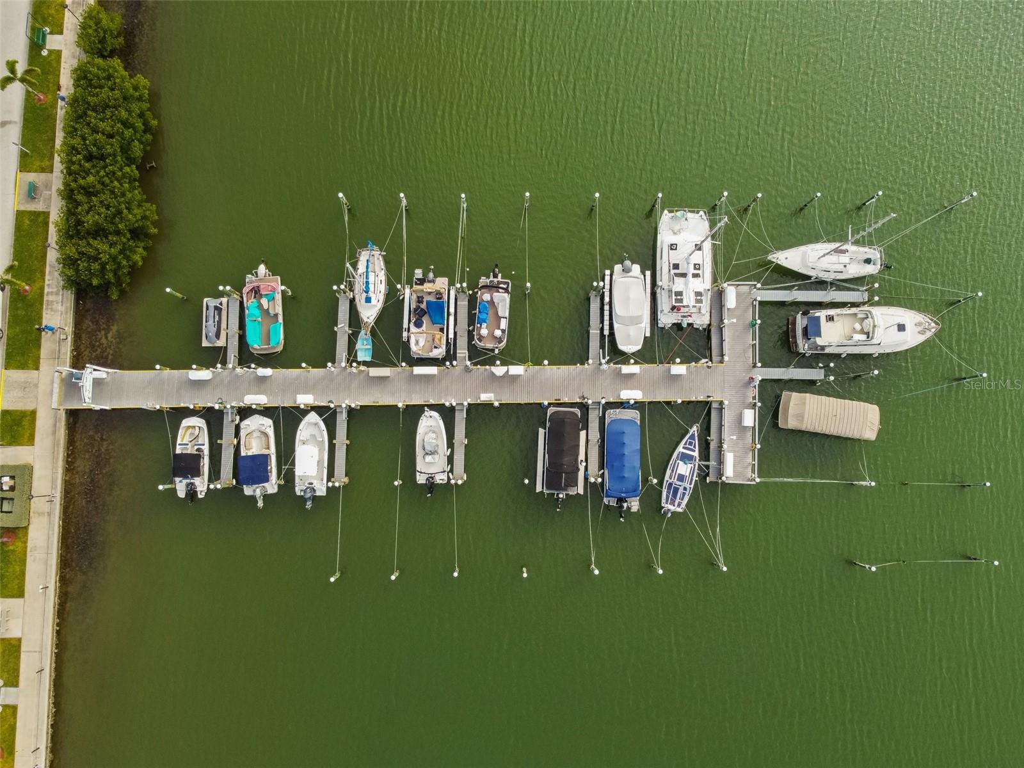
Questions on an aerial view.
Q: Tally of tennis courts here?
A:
none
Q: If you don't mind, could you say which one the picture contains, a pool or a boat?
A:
boat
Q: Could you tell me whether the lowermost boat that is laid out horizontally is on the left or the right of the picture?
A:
right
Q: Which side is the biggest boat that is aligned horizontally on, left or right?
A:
right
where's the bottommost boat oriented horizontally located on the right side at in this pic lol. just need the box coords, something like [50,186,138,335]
[776,391,881,440]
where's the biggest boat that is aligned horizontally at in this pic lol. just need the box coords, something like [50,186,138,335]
[789,305,942,357]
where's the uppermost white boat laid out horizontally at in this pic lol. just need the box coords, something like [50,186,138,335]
[766,213,896,282]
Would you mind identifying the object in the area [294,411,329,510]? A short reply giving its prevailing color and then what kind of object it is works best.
white boat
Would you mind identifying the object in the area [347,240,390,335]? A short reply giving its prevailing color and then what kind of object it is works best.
white boat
